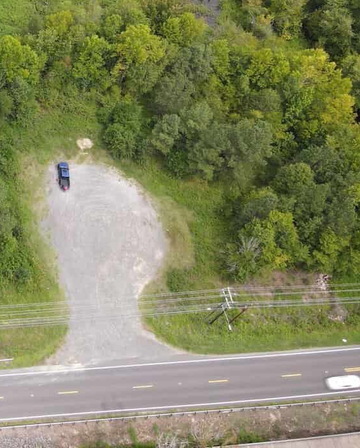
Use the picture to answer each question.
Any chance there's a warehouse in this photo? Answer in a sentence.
No, there is no warehouse in the image.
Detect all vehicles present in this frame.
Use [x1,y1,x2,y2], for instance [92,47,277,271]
[326,374,359,390]
[57,165,72,192]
